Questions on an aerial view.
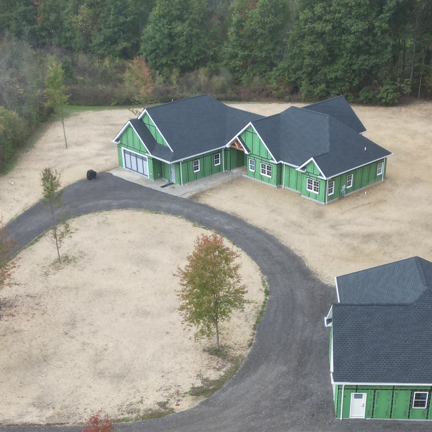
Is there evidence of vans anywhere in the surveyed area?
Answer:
No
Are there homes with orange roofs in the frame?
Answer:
No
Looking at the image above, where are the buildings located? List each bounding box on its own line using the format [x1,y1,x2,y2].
[112,94,394,203]
[327,256,432,421]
